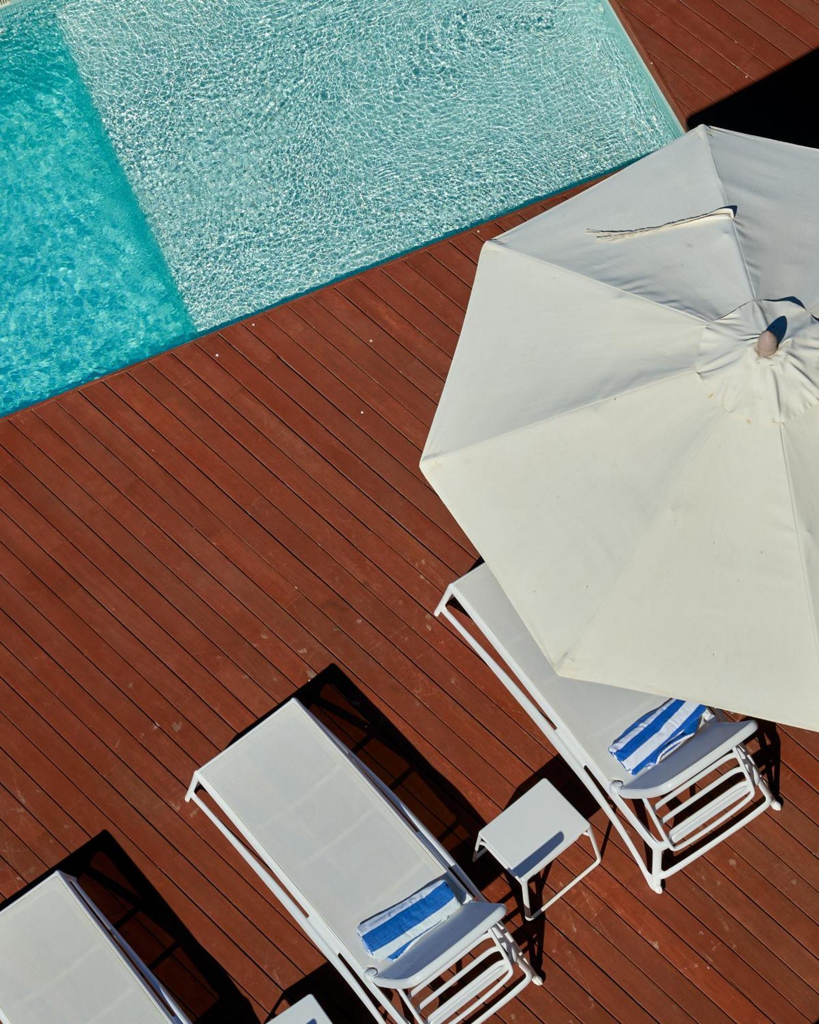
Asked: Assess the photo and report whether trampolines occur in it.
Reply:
No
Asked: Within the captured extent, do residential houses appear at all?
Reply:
No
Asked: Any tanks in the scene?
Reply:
No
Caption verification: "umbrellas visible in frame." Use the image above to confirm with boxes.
[419,125,819,730]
